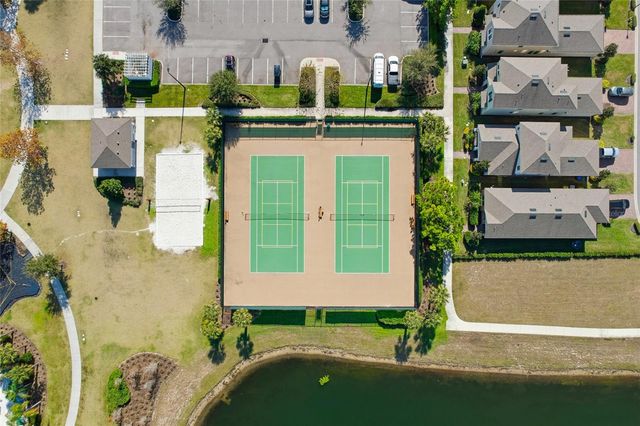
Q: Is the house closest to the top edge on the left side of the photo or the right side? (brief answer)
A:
right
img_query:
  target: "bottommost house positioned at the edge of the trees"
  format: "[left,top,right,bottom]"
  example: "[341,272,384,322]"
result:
[479,189,609,238]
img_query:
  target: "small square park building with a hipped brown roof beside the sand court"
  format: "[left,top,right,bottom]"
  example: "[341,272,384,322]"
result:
[91,119,137,168]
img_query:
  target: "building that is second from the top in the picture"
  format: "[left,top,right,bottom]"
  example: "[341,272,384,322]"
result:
[473,57,602,114]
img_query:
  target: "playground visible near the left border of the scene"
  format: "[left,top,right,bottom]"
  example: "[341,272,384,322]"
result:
[0,229,41,317]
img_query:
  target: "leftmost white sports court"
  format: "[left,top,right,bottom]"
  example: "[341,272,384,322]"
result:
[156,152,204,247]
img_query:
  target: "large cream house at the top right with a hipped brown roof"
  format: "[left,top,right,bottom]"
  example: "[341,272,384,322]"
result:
[473,0,604,57]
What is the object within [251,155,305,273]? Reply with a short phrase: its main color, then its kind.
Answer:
green tennis court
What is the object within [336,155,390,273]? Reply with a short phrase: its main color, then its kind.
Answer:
green tennis court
